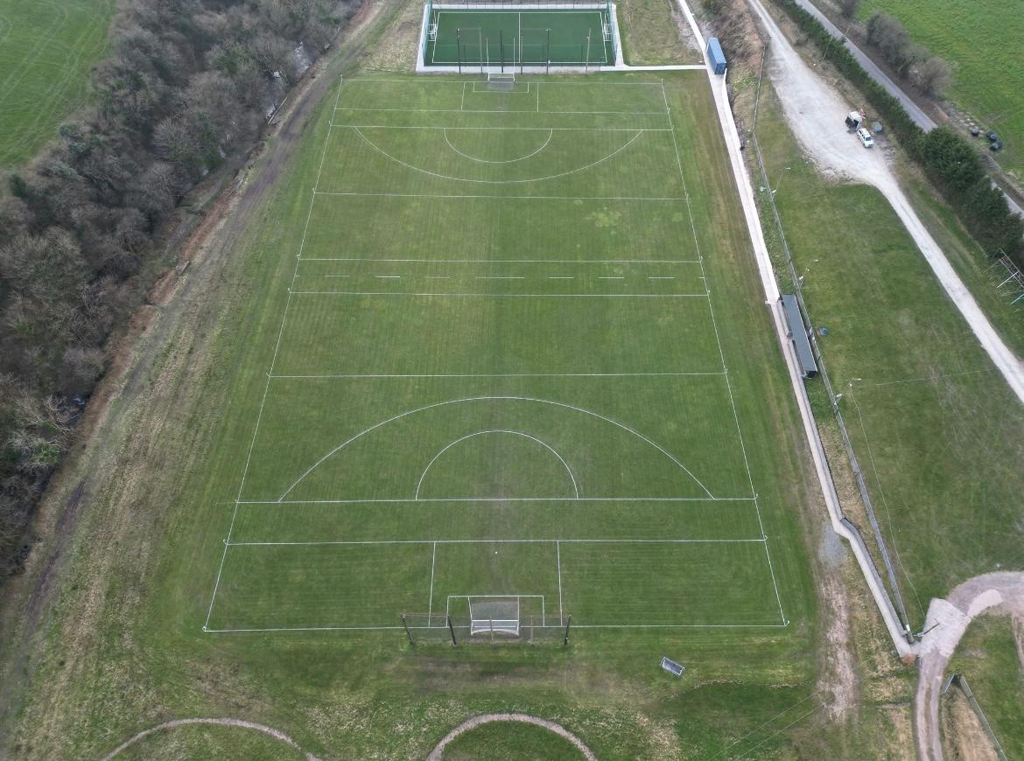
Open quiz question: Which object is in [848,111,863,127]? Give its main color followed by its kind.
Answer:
white vehicle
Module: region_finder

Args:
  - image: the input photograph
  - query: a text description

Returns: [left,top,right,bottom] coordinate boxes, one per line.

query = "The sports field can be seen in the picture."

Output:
[162,77,825,646]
